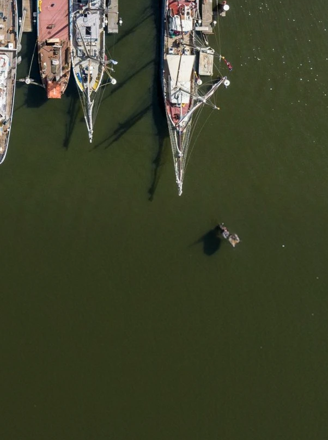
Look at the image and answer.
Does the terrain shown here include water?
Yes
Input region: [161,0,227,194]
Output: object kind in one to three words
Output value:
vessel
